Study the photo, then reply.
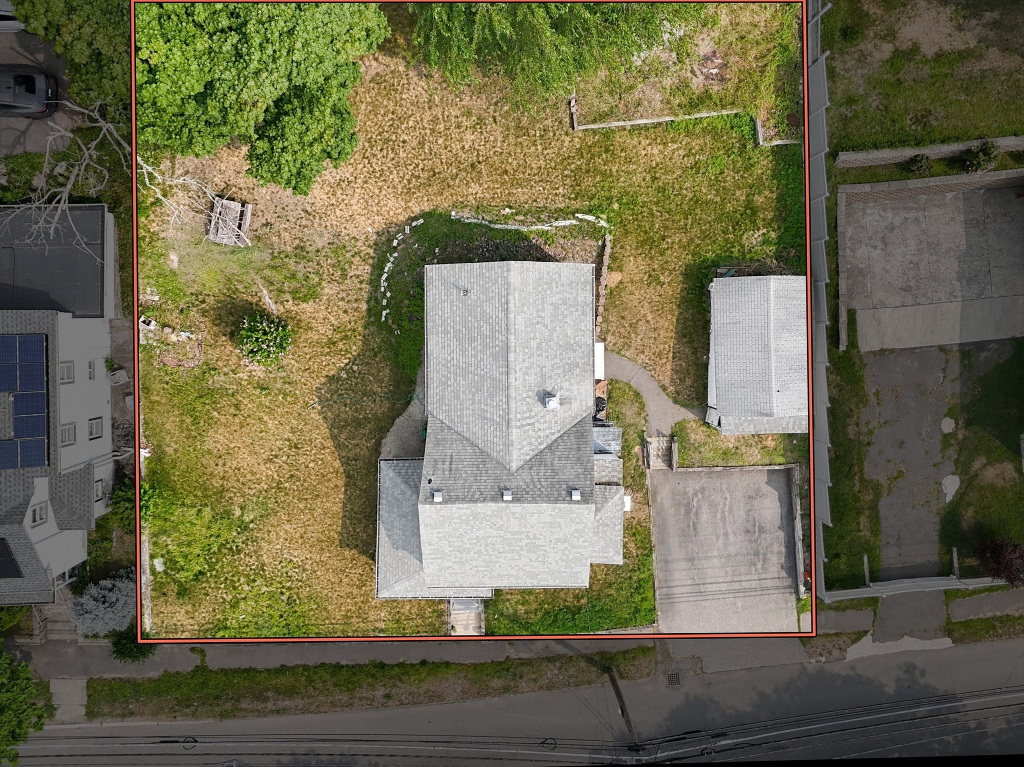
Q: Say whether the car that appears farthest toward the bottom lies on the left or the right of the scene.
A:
left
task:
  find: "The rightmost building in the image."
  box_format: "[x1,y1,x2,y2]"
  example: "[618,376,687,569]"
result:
[697,273,814,438]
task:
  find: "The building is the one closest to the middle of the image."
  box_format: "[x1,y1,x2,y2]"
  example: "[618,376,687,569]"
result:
[375,259,630,601]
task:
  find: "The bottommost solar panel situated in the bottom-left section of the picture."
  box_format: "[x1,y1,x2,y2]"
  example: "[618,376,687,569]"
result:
[0,541,22,581]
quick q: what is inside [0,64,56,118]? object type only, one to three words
car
